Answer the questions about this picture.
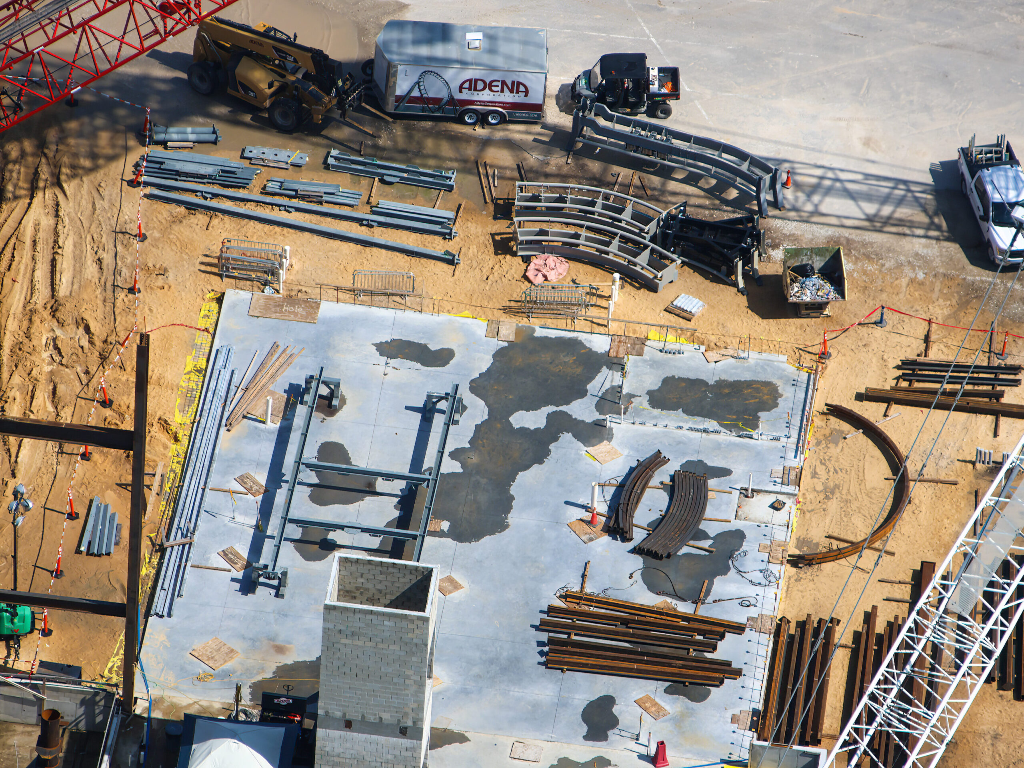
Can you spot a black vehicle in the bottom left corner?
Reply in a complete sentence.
No, I can find no black vehicle in the bottom left corner.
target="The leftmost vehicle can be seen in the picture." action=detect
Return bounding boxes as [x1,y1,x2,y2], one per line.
[176,10,382,154]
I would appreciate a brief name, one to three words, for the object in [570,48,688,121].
vehicle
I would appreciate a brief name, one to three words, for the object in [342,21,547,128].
trailer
